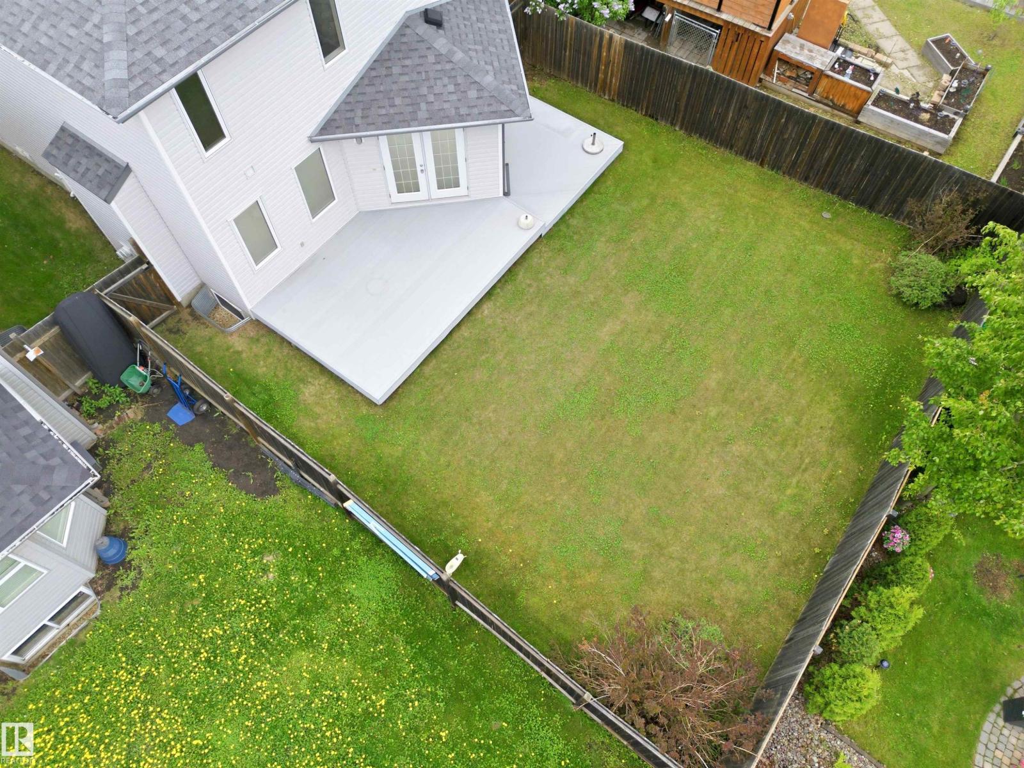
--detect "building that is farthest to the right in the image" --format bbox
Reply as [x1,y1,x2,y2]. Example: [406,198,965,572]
[763,32,837,98]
